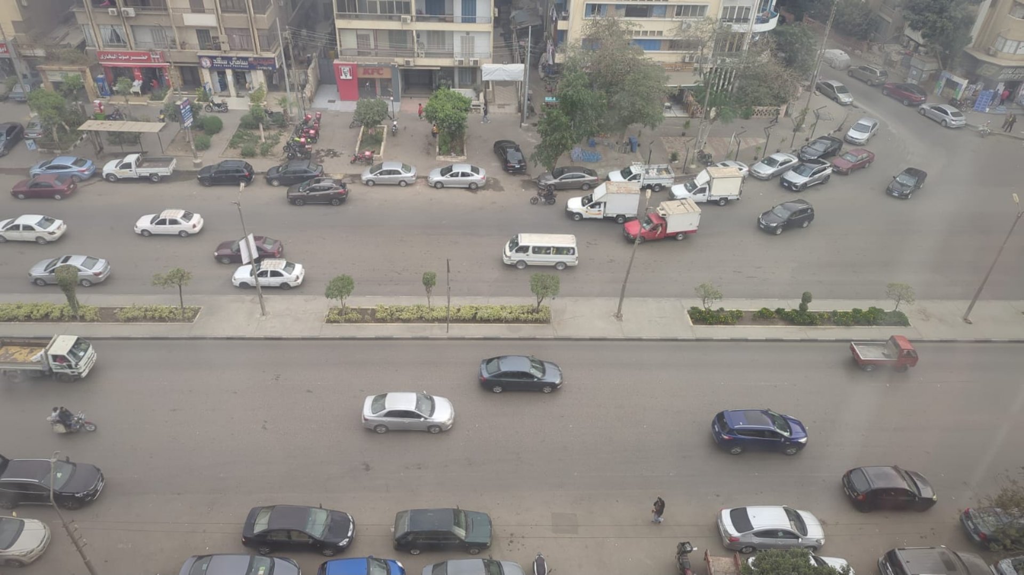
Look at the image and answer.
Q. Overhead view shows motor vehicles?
Yes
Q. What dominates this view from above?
paved ground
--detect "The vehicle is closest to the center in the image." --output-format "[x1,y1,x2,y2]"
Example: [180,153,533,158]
[505,231,579,270]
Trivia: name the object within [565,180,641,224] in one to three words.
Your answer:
truck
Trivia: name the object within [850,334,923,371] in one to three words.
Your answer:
truck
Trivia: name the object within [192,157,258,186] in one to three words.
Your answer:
car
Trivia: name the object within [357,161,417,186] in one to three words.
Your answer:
car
